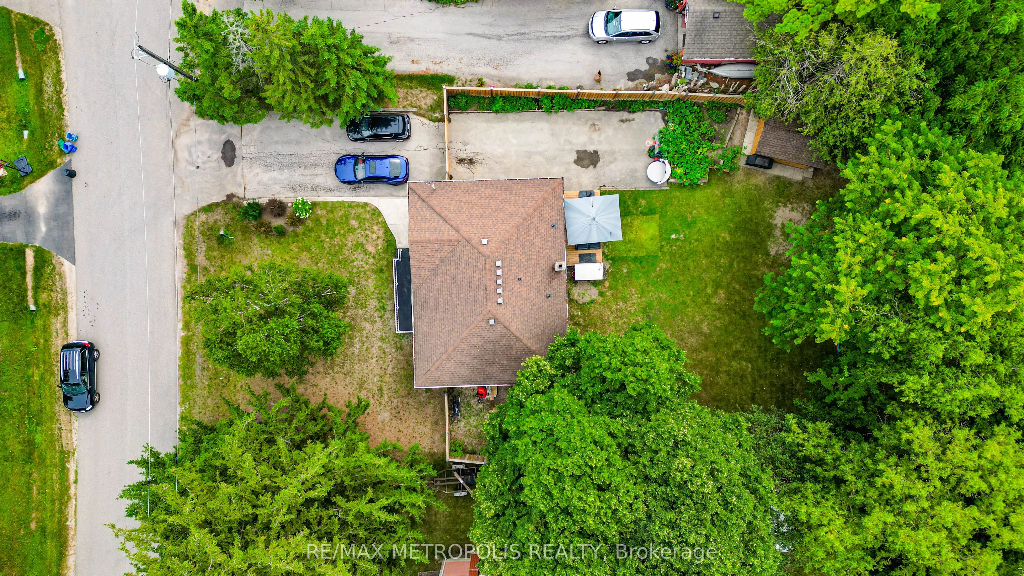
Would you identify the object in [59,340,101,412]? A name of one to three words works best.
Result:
car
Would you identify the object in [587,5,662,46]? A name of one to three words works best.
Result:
car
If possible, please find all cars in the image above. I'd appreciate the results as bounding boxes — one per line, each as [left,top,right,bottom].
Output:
[346,107,412,143]
[59,340,101,412]
[335,150,409,187]
[587,5,662,46]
